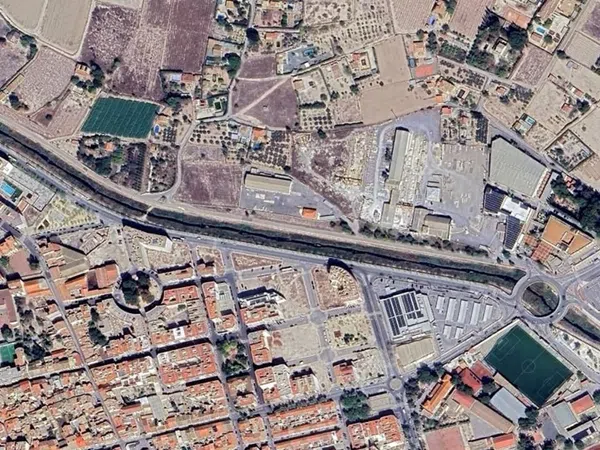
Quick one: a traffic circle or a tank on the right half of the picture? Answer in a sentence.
What appears on the right half of the picture is a traffic circle.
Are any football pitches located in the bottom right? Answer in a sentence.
Yes, a football pitch appears in the bottom right.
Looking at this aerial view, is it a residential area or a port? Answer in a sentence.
The area seen from above is a residential area.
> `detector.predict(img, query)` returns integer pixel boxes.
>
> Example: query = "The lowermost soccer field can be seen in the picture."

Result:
[473,319,579,411]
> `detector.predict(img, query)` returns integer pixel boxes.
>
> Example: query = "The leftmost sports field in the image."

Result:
[80,96,161,139]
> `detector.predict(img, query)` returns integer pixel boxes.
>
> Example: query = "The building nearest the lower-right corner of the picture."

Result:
[564,422,598,445]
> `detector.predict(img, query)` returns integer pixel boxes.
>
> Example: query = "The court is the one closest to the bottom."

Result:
[426,426,465,450]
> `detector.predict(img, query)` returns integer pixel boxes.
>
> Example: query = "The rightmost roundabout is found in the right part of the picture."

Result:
[517,274,566,323]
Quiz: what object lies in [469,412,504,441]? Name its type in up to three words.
building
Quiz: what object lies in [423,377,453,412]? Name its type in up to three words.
building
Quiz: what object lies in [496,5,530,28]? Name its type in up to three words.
house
